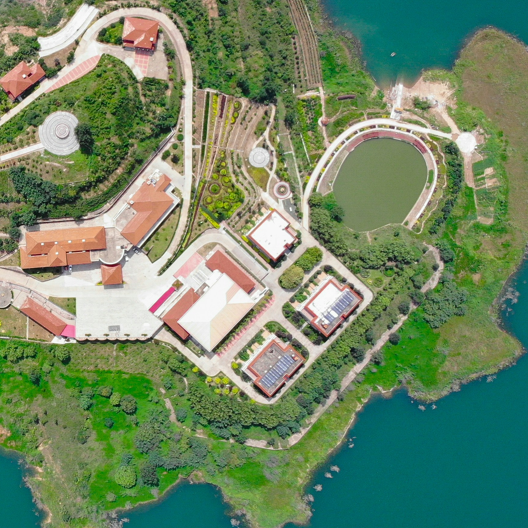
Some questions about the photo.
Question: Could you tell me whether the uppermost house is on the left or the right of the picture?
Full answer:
The uppermost house appears in the left half of the scene.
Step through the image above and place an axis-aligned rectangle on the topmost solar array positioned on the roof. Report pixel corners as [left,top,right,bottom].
[324,292,353,325]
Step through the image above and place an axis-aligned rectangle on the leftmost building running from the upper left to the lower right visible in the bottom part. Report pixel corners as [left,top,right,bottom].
[20,298,66,336]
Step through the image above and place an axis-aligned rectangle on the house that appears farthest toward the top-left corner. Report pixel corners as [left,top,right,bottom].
[0,61,46,100]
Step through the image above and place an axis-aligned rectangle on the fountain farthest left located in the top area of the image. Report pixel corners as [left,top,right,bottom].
[273,181,291,199]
